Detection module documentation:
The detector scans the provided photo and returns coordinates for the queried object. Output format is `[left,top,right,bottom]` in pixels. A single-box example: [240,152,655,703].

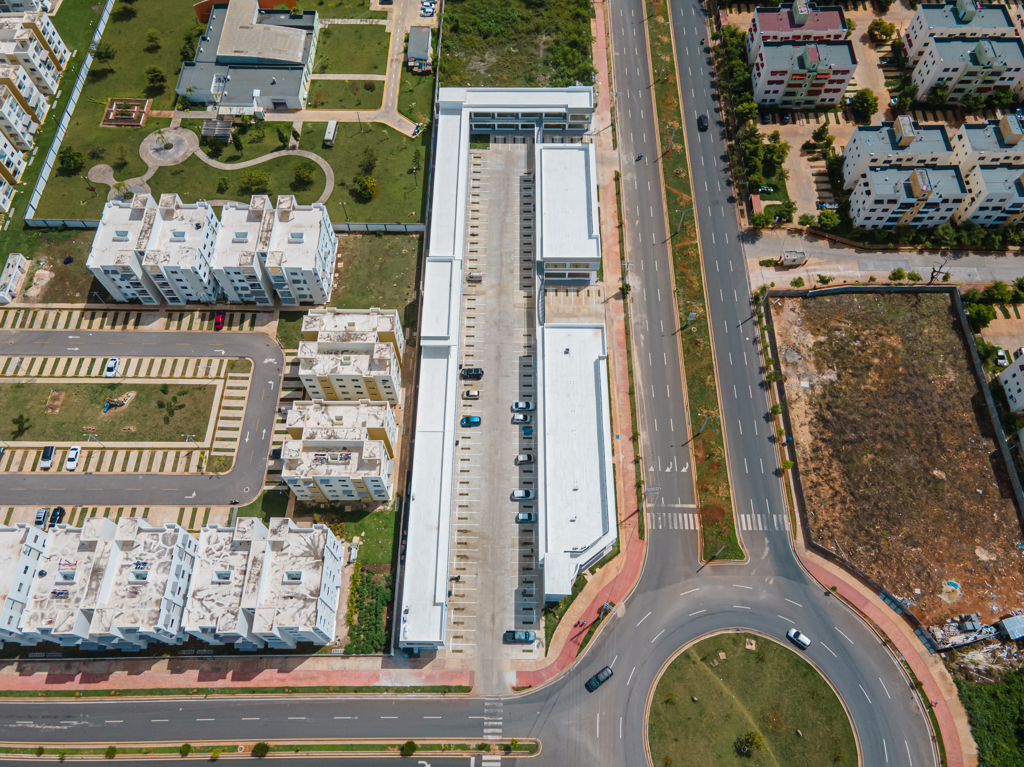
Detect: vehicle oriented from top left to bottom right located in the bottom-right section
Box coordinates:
[784,627,814,652]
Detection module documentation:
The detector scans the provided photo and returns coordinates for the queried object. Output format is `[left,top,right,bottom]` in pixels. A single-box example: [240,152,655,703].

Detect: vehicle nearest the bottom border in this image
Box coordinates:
[586,665,612,693]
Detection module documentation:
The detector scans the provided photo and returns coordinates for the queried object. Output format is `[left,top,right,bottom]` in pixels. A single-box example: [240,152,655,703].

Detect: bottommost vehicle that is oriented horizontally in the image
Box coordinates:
[504,631,534,644]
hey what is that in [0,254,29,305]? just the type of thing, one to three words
building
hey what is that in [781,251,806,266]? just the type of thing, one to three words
building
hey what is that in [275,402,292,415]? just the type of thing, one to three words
vehicle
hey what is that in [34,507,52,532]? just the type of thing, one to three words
car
